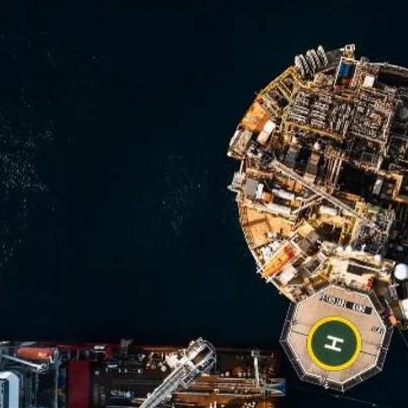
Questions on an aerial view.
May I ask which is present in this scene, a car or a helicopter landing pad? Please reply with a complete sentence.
There is a helicopter landing pad in the scene.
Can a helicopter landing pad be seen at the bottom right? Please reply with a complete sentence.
Yes, there is a helicopter landing pad at the bottom right.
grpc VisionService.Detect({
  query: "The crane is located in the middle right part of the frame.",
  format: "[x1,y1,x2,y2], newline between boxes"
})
[251,141,388,237]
